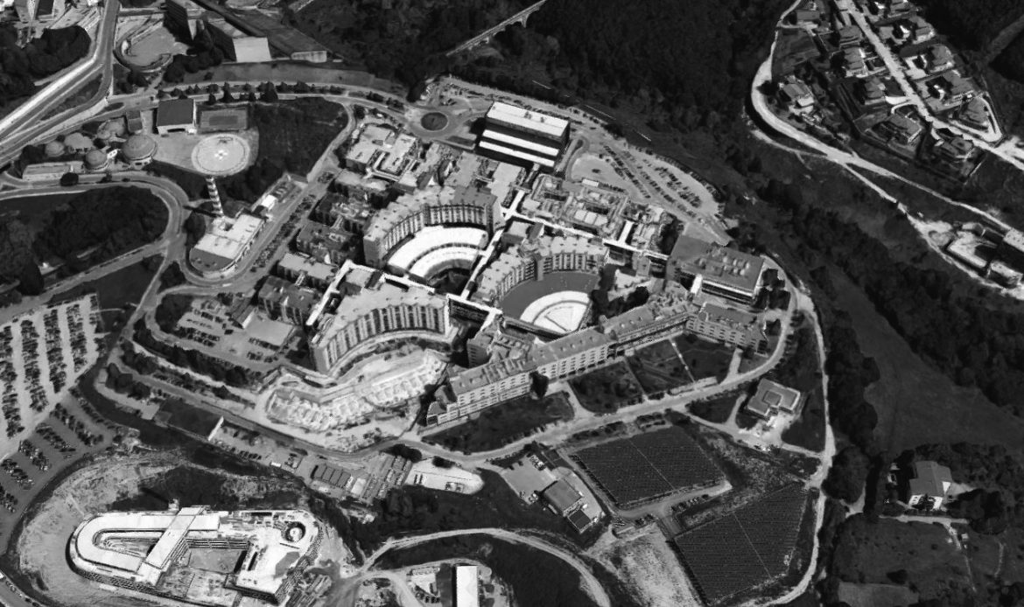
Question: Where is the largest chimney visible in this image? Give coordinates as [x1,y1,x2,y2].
[209,173,227,217]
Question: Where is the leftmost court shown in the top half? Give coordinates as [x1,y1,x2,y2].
[198,105,249,130]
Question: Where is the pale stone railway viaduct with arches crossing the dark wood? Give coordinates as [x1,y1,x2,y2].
[445,0,555,65]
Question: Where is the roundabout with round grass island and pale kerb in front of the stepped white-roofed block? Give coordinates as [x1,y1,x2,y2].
[409,103,461,138]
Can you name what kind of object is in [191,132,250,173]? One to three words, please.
helipad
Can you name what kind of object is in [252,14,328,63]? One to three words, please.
hangar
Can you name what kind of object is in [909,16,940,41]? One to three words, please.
house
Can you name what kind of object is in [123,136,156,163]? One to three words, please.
building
